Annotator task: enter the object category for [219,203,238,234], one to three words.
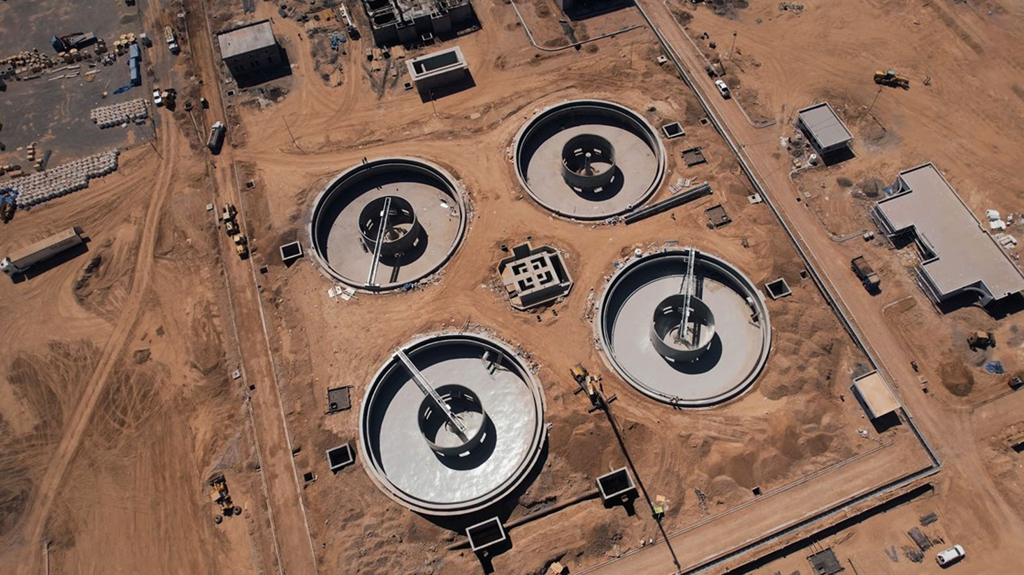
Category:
work vehicle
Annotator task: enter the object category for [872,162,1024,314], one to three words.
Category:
building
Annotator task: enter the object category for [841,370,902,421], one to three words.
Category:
building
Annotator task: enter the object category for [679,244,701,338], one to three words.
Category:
bridge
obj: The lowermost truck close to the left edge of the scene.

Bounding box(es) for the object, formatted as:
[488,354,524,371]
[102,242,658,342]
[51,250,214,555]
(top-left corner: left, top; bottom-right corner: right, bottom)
[0,224,91,278]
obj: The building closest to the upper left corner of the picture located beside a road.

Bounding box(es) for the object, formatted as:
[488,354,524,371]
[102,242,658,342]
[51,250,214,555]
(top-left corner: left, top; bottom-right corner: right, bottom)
[217,19,284,78]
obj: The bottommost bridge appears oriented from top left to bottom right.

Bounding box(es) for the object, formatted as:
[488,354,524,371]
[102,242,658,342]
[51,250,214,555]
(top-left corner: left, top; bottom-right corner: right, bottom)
[390,345,466,432]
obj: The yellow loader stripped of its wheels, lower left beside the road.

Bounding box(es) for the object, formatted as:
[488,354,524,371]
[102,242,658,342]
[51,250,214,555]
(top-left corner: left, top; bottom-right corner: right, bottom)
[210,475,231,514]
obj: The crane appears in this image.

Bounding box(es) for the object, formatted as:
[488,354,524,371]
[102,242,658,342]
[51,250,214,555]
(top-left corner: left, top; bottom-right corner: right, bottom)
[571,360,624,440]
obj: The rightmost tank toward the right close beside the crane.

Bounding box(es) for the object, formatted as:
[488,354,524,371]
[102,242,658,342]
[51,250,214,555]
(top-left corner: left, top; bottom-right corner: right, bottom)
[594,244,774,409]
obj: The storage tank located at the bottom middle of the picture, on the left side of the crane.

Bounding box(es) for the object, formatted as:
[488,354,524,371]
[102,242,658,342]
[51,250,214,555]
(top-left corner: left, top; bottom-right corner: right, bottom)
[355,333,548,519]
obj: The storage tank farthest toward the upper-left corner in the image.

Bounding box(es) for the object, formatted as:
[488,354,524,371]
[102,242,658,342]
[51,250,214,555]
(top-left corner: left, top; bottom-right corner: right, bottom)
[308,157,469,292]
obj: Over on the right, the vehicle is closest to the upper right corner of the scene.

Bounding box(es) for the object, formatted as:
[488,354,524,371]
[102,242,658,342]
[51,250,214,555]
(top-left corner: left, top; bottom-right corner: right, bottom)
[877,65,914,89]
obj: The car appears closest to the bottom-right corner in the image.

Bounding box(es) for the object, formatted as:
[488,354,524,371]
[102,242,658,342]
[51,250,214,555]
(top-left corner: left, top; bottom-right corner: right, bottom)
[932,542,970,566]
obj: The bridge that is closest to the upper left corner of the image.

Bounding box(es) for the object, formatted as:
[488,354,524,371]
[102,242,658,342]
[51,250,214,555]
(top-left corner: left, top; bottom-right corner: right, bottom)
[363,196,395,288]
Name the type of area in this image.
industrial area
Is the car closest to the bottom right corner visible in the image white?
Yes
